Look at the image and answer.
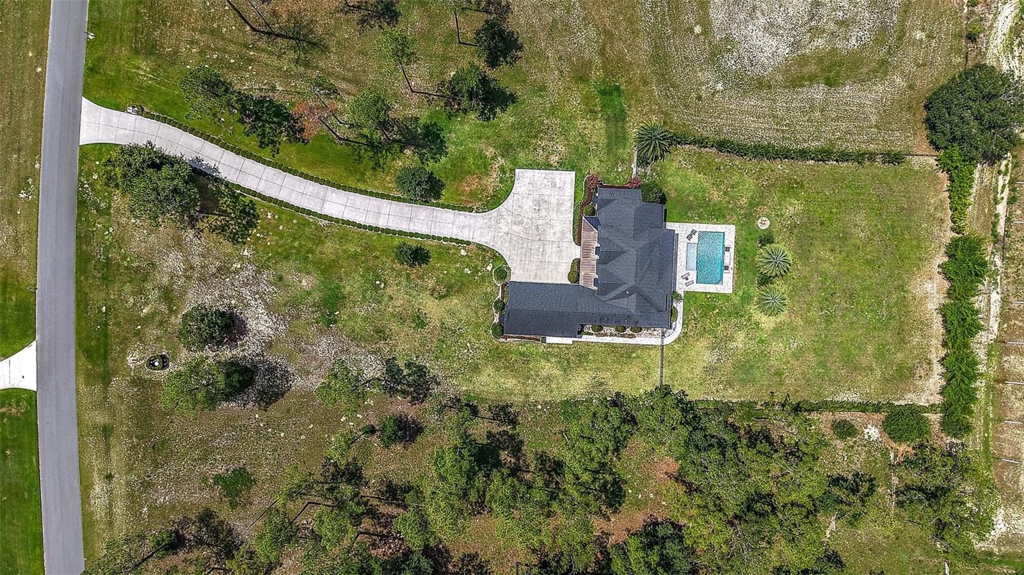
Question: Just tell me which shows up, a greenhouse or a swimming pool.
swimming pool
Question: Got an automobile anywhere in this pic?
No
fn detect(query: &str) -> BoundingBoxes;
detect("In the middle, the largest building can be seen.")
[504,187,680,338]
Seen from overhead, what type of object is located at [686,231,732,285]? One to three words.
swimming pool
